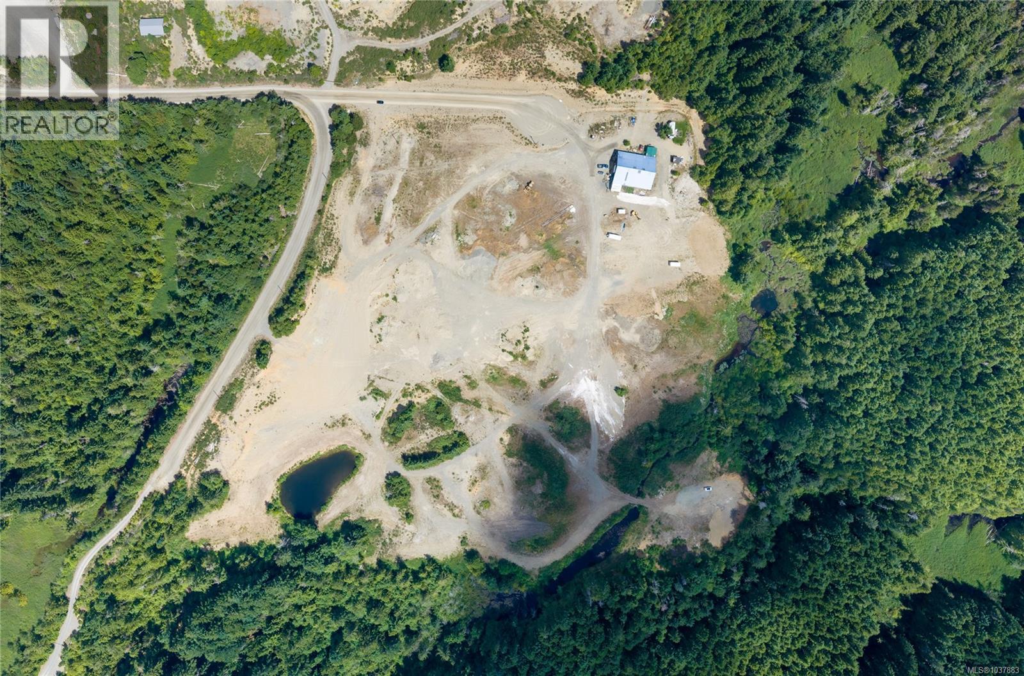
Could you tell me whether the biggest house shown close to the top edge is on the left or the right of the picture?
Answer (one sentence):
The biggest house shown close to the top edge sits on the left side.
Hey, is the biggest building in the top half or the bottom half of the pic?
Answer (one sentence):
Seen from above, the biggest building lies in the top half of the view.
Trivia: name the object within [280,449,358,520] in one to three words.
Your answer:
pond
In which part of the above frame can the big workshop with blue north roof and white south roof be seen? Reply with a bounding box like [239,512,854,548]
[610,150,656,193]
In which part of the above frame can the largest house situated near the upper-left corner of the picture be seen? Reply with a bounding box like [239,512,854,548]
[137,17,164,38]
